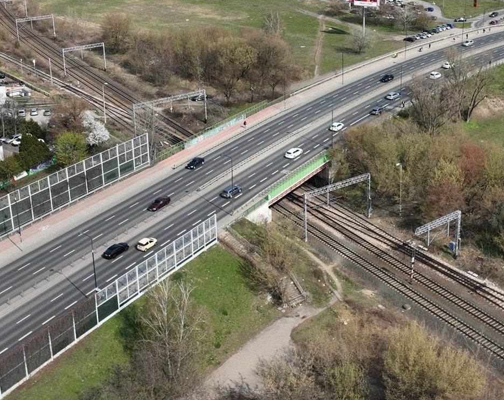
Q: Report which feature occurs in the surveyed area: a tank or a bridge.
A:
bridge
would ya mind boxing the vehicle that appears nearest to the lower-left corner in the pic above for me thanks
[101,241,130,259]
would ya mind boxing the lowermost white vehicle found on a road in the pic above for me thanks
[134,235,159,251]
